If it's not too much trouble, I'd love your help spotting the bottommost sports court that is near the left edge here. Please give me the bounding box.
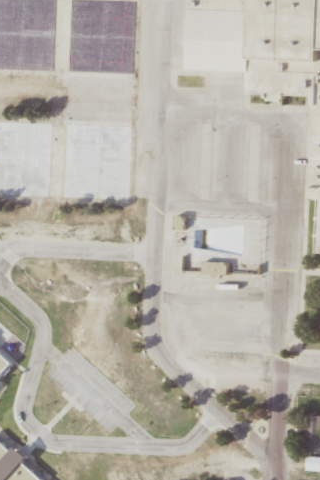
[0,123,52,196]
